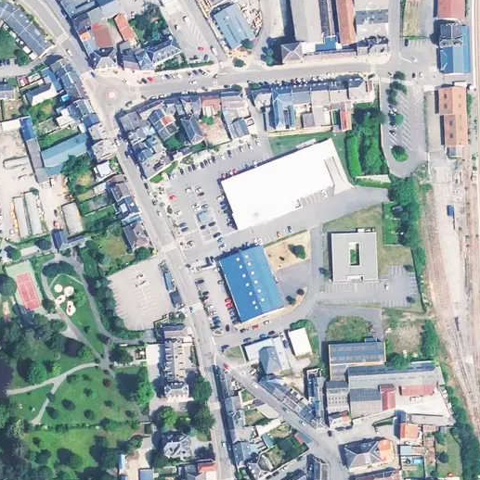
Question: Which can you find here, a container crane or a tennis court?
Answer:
tennis court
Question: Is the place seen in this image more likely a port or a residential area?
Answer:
residential area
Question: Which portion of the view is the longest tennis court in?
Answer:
left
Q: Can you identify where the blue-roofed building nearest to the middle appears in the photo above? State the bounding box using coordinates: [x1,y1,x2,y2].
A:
[218,245,284,323]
